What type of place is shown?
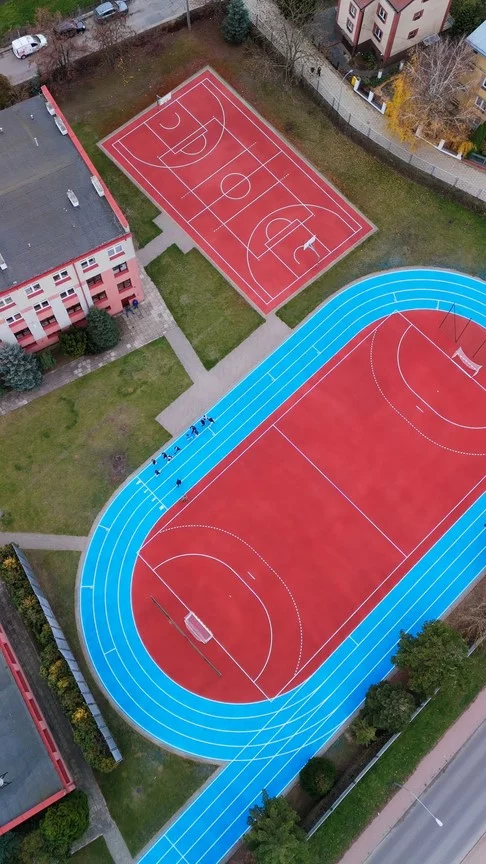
sports ground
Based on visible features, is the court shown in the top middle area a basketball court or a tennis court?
basketball court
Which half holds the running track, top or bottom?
bottom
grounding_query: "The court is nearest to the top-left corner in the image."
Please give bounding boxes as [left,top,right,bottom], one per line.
[97,67,379,320]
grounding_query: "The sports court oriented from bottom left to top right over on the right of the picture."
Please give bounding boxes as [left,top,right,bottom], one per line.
[130,310,486,705]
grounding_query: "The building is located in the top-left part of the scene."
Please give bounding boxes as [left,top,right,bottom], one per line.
[0,82,144,359]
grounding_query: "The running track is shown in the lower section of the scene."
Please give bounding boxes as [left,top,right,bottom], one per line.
[73,264,486,864]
